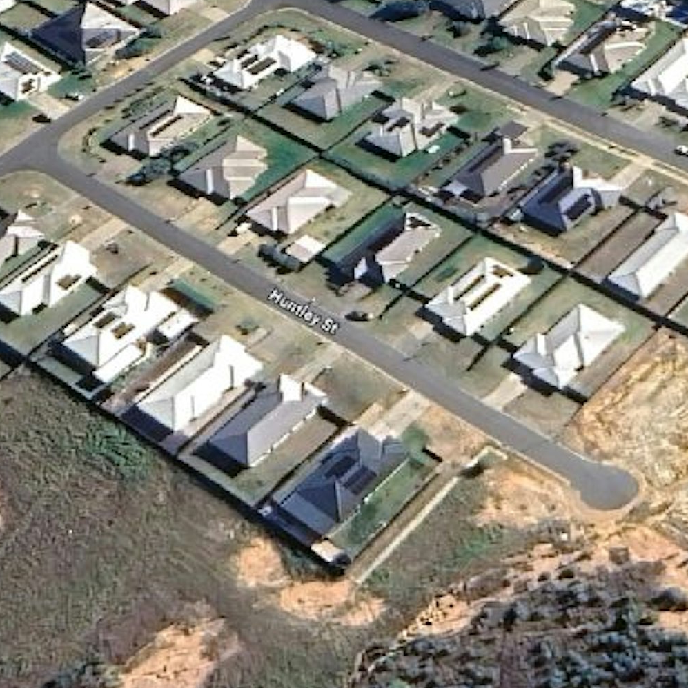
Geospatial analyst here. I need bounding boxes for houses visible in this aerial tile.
[515,301,625,395]
[111,0,201,22]
[280,426,410,533]
[136,338,265,436]
[439,0,522,28]
[209,376,327,474]
[364,96,463,163]
[0,243,100,321]
[607,207,688,304]
[0,45,63,110]
[556,20,652,82]
[497,0,580,52]
[631,39,688,114]
[181,136,276,204]
[109,96,215,163]
[211,35,319,96]
[247,170,357,237]
[333,212,442,290]
[59,285,179,390]
[0,211,43,275]
[291,63,380,126]
[28,2,142,70]
[426,256,531,341]
[441,122,538,206]
[519,162,623,233]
